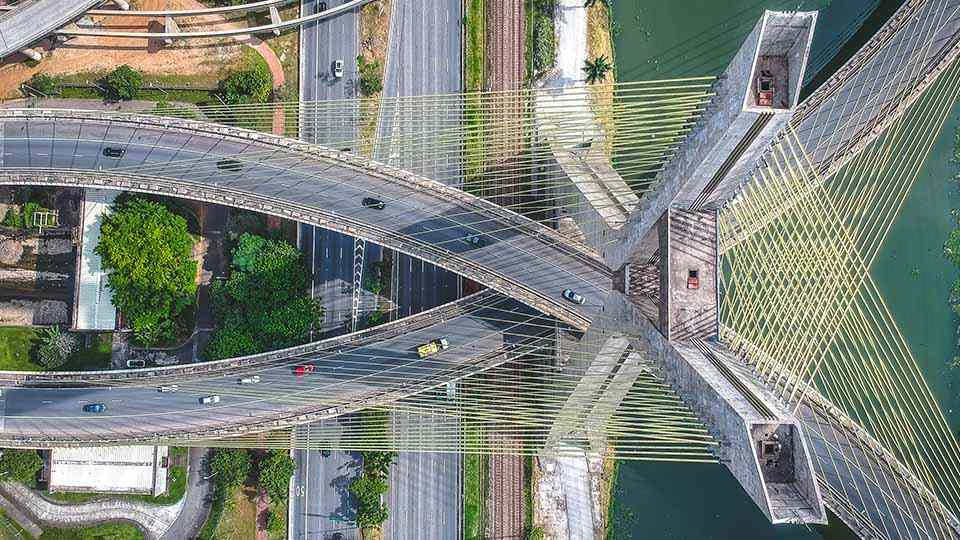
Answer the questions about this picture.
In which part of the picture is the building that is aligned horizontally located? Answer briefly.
bottom left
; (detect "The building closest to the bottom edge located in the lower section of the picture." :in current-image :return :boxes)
[47,445,166,497]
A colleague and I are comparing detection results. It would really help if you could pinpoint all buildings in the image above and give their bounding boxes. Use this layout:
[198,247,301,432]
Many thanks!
[47,445,166,497]
[71,188,128,330]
